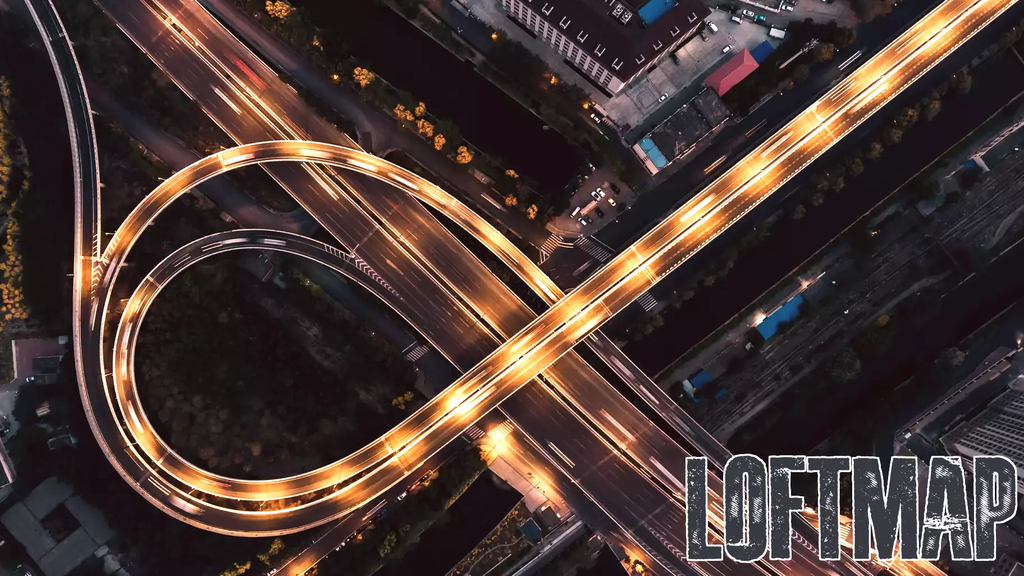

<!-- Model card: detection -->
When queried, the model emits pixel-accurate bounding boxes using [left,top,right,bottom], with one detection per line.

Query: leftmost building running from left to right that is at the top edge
[502,0,713,93]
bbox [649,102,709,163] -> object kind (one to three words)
building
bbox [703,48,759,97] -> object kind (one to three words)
house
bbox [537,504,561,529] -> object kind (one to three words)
building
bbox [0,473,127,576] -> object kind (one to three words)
house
